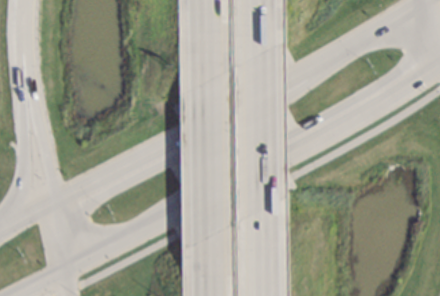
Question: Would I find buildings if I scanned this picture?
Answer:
No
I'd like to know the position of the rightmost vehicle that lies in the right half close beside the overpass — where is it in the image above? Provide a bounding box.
[300,116,322,130]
